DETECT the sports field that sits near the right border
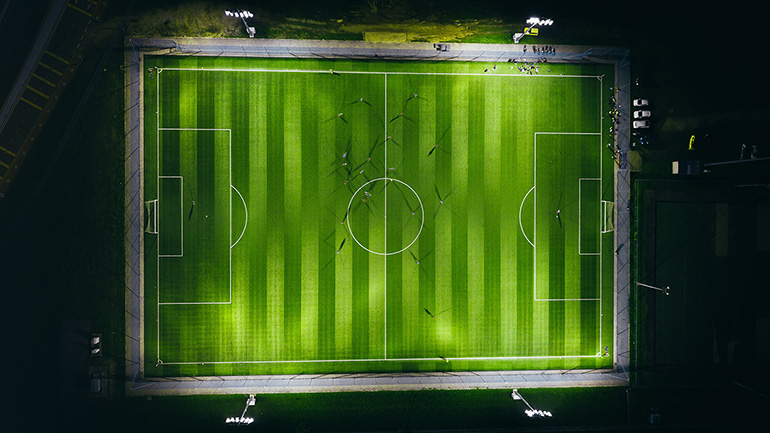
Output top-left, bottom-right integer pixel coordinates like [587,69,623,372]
[644,190,770,372]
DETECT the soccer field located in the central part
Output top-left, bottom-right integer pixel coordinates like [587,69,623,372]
[144,55,614,377]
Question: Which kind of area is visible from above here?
sports ground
